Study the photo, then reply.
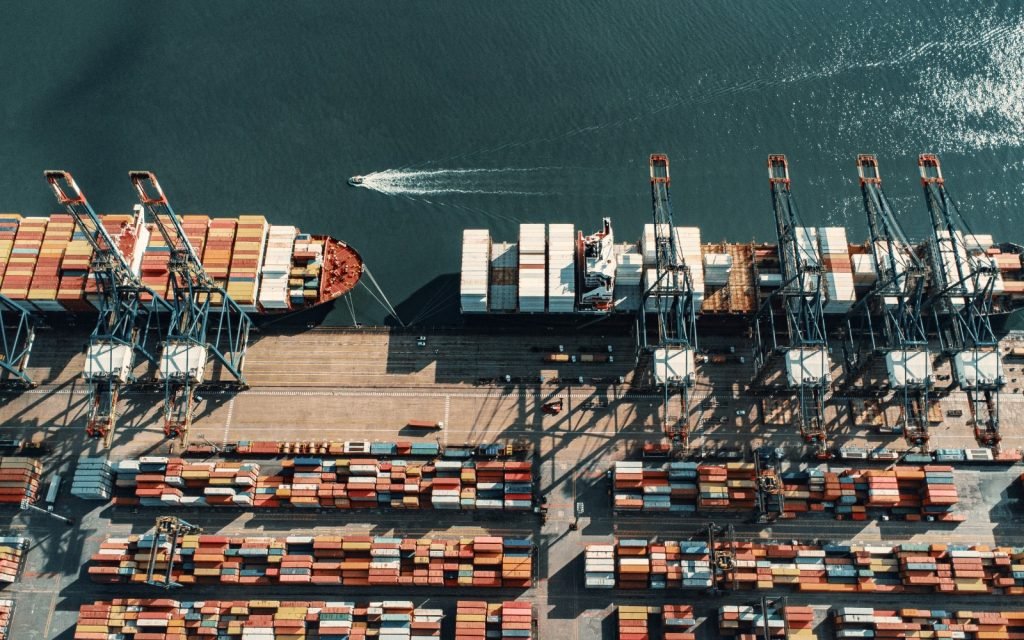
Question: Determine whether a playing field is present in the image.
No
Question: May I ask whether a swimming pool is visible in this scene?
No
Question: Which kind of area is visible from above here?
port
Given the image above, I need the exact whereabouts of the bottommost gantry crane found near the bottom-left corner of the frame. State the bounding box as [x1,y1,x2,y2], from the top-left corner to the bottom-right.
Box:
[147,520,202,594]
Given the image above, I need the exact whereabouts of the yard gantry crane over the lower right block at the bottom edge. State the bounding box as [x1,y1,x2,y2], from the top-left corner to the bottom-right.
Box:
[745,597,795,640]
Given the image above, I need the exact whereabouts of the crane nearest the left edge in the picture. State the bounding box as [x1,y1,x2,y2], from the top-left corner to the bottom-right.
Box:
[0,290,55,386]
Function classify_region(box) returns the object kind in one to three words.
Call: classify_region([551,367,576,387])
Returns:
vehicle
